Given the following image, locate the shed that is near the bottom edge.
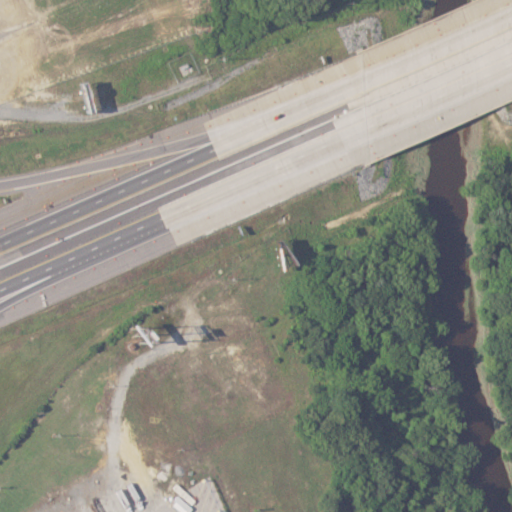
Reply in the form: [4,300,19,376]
[186,478,228,512]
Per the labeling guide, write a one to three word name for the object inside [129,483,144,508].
vehicle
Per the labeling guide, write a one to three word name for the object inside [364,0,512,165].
bridge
